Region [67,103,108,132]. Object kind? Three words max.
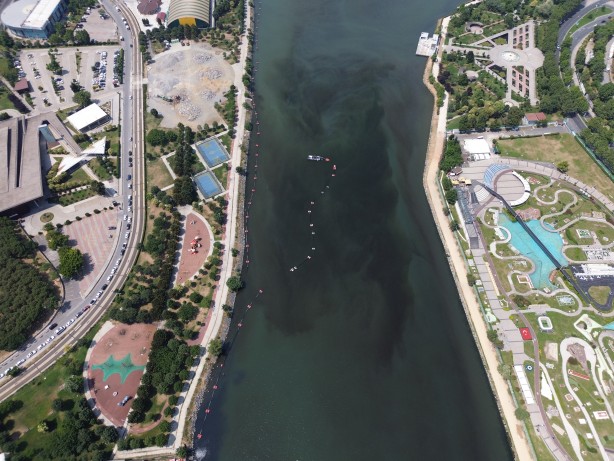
building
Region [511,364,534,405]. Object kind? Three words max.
building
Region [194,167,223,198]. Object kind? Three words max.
sports court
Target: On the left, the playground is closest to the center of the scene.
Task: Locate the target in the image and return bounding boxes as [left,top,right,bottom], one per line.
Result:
[175,212,210,289]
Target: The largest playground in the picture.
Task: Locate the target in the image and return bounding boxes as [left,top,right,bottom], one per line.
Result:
[88,320,158,427]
